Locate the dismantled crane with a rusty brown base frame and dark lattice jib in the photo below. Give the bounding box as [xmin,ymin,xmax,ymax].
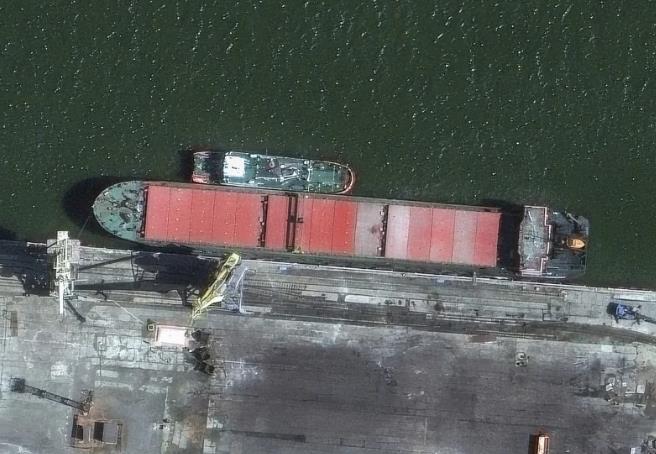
[10,379,121,448]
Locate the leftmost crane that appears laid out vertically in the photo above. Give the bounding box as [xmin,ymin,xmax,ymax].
[43,234,86,321]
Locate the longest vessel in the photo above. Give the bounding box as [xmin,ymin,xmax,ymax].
[90,181,591,275]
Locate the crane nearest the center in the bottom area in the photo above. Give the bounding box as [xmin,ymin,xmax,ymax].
[190,247,256,325]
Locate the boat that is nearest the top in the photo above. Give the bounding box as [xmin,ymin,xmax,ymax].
[192,150,354,193]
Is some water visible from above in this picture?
Yes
